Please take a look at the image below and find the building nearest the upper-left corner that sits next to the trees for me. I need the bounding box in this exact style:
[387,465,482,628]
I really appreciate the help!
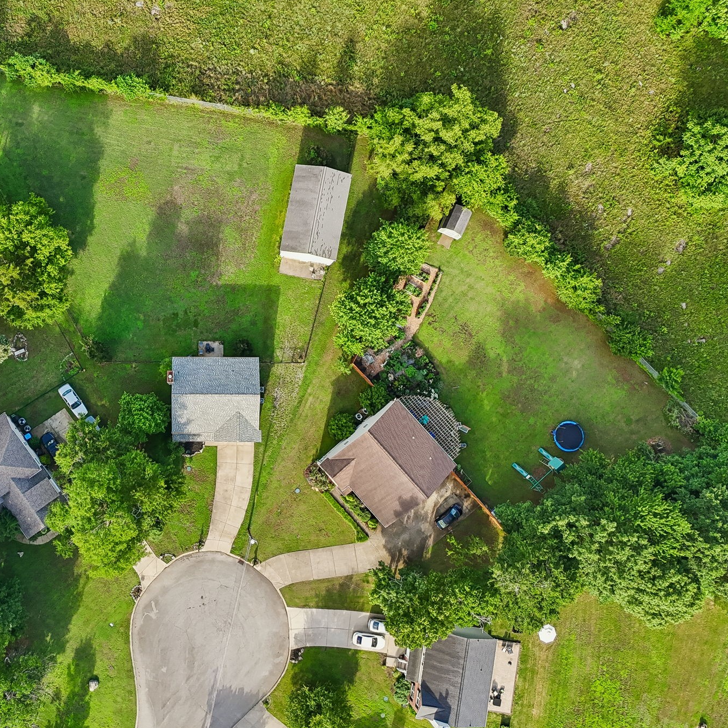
[280,164,352,262]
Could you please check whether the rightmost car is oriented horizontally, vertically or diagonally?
diagonally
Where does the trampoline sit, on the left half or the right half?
right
